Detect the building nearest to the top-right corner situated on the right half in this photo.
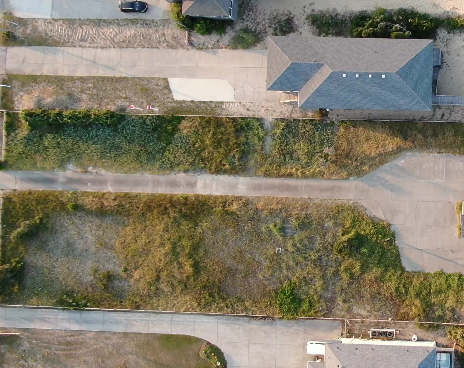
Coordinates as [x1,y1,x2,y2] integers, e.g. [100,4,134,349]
[266,36,434,111]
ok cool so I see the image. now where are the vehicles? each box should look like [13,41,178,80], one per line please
[300,342,325,358]
[117,0,146,13]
